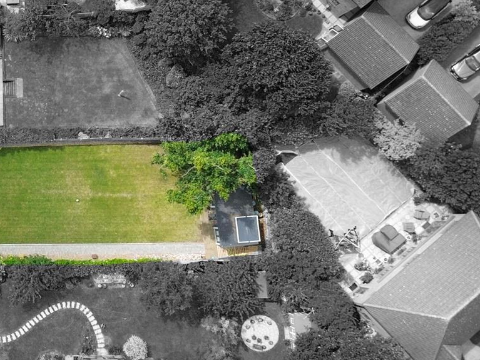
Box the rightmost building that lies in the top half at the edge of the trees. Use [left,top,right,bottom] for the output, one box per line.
[374,60,480,148]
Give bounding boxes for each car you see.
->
[407,0,452,28]
[449,46,480,79]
